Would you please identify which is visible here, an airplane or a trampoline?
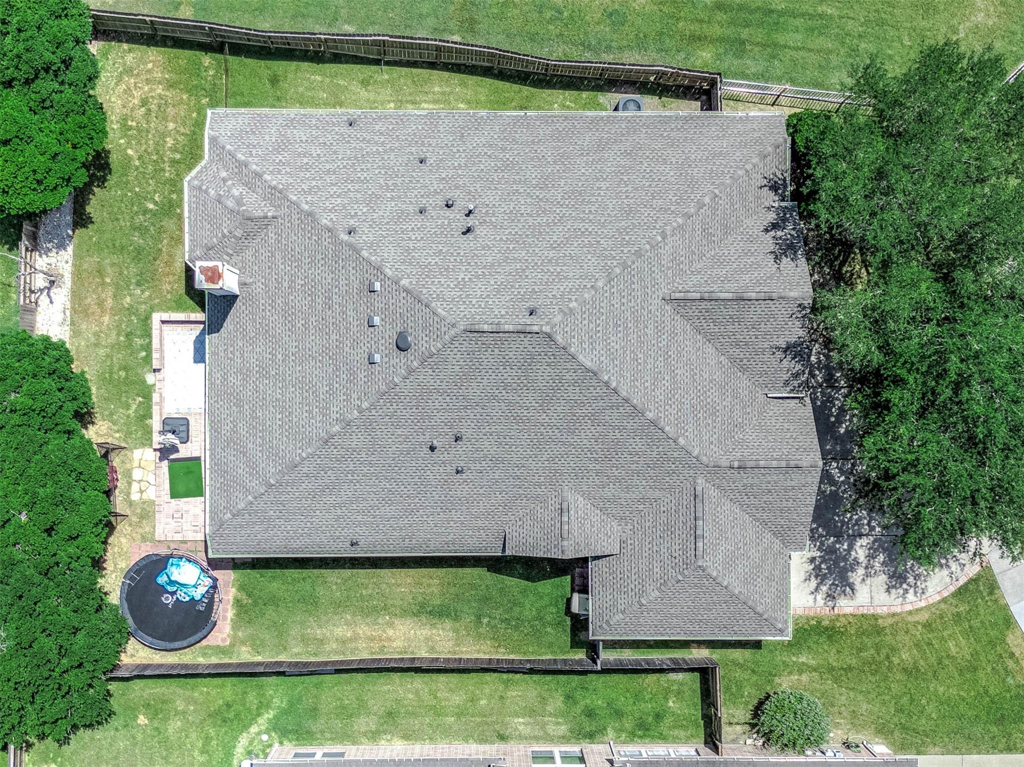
trampoline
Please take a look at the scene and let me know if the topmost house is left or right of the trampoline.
right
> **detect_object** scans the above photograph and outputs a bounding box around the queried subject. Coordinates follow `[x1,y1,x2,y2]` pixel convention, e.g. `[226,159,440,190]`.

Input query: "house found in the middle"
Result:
[182,109,820,642]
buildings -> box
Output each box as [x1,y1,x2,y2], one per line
[253,736,918,767]
[182,109,820,642]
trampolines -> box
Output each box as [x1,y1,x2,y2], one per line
[120,549,223,651]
